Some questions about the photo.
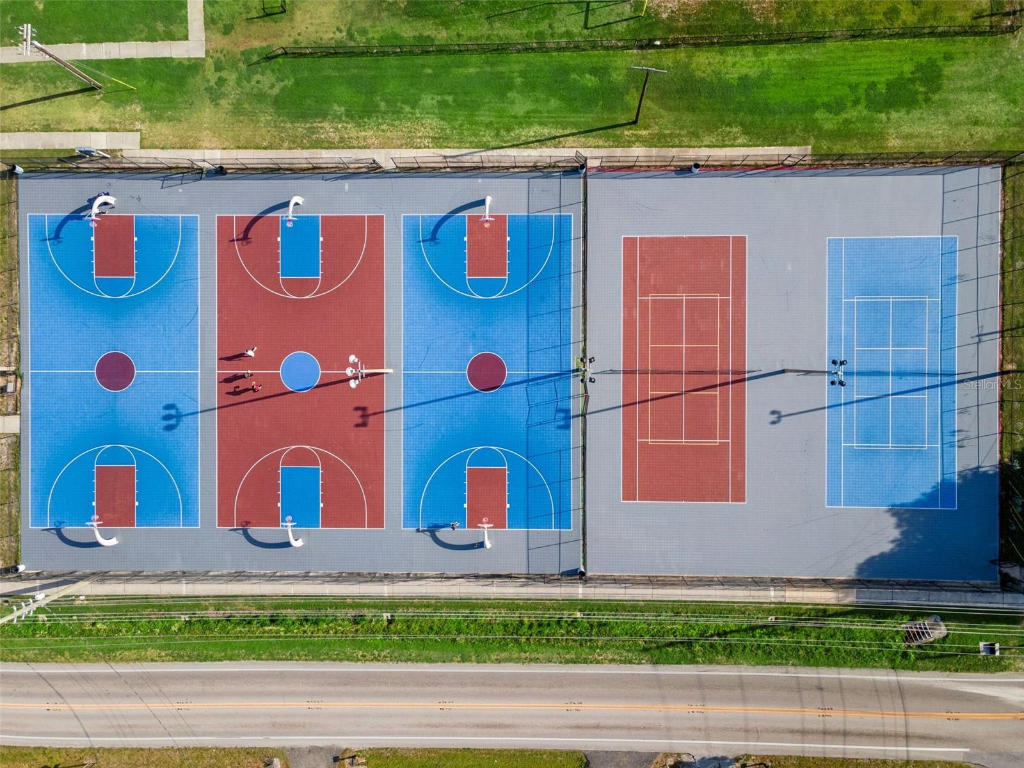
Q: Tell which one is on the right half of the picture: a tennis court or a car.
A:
tennis court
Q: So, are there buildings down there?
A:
No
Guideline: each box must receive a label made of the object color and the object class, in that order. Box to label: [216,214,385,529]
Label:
red basketball court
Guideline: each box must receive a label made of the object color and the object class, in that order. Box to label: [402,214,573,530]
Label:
blue basketball court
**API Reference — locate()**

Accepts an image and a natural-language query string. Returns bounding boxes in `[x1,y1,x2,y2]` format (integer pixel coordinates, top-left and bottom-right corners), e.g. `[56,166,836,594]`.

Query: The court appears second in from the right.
[622,235,747,504]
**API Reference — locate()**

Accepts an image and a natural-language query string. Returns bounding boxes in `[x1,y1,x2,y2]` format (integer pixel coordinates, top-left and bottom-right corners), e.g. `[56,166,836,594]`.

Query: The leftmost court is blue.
[27,214,200,528]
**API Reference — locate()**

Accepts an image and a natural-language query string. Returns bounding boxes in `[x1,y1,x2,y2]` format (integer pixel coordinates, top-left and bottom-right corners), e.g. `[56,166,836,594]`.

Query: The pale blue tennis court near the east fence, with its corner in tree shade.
[826,235,959,510]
